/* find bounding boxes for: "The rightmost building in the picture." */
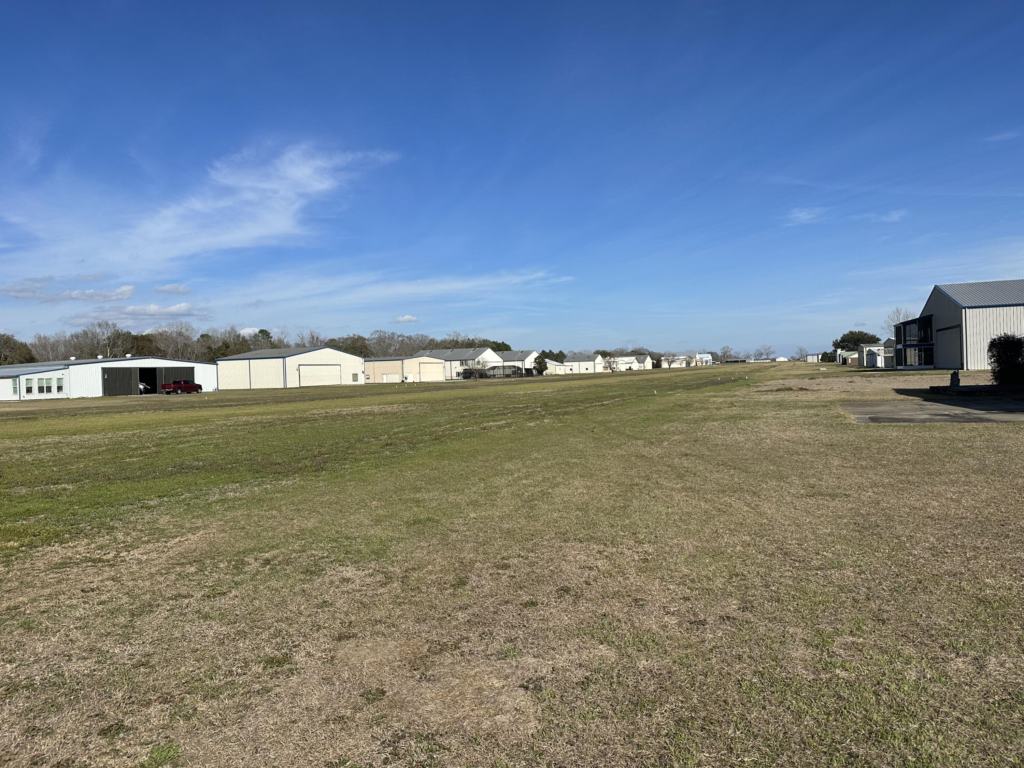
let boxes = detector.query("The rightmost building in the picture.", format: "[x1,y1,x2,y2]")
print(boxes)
[890,278,1024,370]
